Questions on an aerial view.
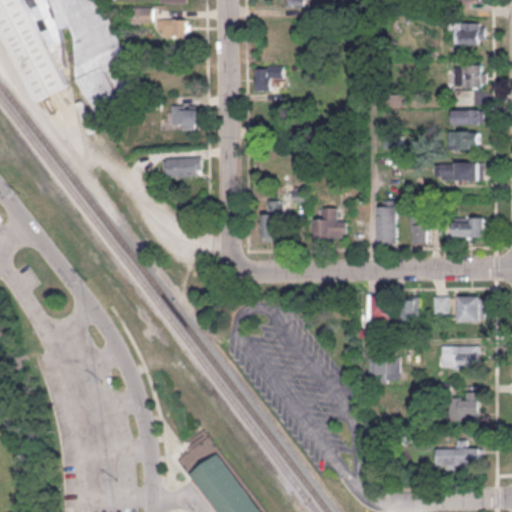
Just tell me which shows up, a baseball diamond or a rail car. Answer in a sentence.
I can see a rail car in this picture.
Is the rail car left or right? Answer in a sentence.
You can find the rail car on the left side of the picture.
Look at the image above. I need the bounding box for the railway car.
[160,296,188,331]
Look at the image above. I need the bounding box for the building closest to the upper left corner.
[0,0,74,104]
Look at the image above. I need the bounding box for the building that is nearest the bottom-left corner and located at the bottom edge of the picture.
[190,454,263,512]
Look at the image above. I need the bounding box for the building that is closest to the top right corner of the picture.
[444,24,488,46]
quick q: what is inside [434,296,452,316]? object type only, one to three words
building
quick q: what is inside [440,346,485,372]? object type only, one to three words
house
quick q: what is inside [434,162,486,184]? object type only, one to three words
house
